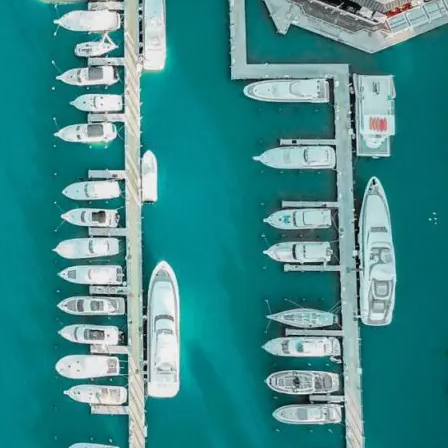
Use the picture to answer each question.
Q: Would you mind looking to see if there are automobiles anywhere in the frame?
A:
No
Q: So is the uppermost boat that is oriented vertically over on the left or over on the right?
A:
left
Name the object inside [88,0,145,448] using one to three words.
pier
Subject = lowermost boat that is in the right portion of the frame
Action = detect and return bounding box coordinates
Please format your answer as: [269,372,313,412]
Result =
[273,402,350,427]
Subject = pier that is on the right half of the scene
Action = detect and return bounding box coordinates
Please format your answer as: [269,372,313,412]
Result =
[229,0,364,448]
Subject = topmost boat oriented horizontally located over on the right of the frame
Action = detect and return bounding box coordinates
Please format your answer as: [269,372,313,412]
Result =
[244,78,336,104]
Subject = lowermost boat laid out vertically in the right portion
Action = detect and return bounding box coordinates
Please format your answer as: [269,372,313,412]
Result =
[357,176,397,326]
